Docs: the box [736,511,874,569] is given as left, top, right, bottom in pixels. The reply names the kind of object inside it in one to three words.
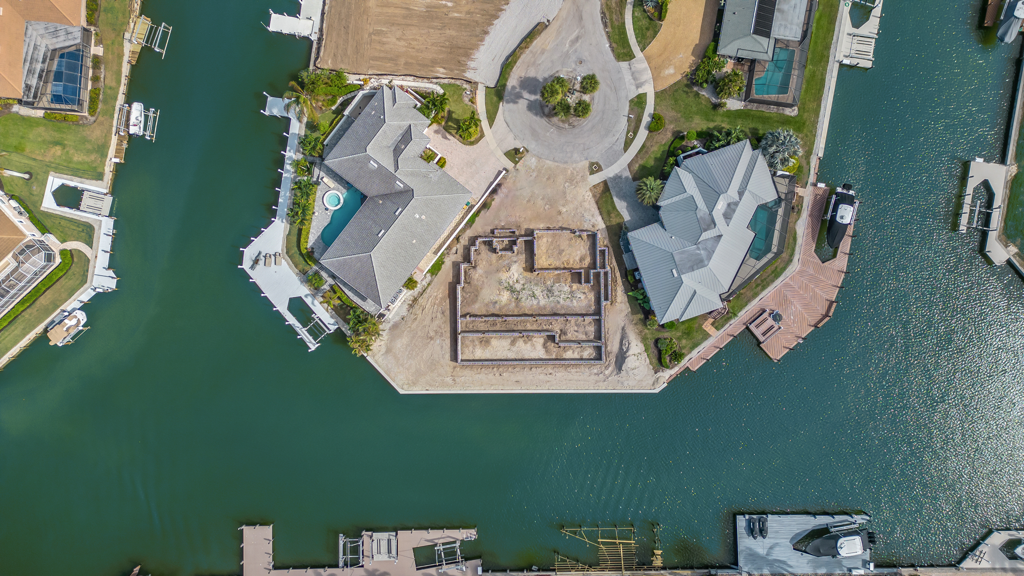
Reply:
pier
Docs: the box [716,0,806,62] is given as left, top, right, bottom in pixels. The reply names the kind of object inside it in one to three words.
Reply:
house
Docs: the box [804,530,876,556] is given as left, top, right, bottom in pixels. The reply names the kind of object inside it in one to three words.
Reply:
boat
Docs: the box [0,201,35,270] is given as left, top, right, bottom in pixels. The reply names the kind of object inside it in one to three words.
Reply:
house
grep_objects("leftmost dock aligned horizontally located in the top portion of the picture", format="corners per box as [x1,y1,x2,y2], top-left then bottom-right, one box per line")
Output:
[42,177,116,220]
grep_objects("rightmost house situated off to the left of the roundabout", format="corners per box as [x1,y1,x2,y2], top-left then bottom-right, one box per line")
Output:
[319,85,473,309]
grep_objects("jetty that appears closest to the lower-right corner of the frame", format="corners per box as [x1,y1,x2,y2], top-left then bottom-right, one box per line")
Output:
[951,526,1024,571]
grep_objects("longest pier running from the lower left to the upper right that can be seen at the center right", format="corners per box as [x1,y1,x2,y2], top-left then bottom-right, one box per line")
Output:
[677,187,859,376]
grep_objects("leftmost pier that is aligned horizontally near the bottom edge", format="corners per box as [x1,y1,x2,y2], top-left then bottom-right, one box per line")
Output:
[239,521,483,576]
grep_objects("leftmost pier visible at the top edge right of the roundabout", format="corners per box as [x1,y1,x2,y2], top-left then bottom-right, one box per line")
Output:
[839,0,885,72]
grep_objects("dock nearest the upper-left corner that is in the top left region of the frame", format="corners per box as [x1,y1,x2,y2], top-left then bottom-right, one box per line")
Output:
[128,17,151,68]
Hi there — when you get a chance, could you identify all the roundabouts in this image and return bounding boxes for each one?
[503,37,630,164]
